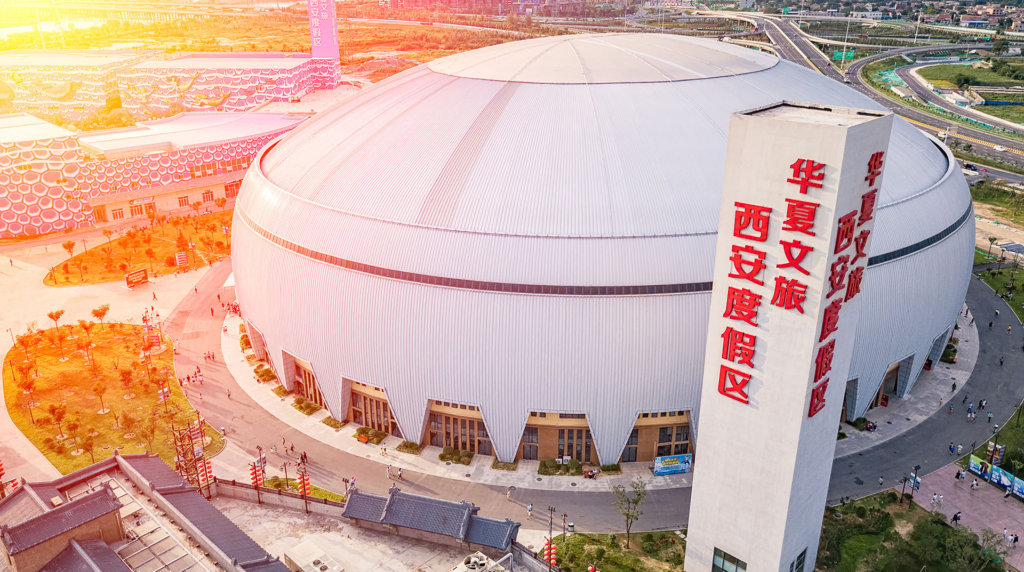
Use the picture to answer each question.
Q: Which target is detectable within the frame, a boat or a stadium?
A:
stadium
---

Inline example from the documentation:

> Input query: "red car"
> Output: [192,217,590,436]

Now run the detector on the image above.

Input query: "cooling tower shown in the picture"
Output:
[451,548,509,572]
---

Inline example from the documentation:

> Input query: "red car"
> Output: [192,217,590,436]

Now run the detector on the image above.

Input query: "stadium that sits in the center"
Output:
[231,30,977,466]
